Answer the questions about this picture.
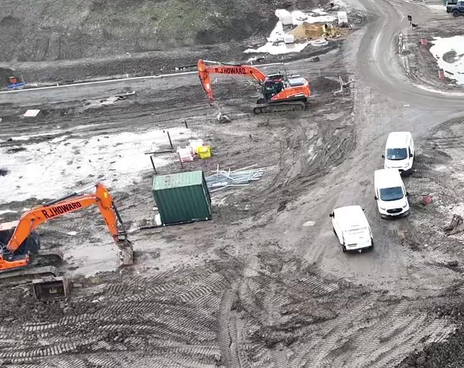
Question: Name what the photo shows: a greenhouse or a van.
van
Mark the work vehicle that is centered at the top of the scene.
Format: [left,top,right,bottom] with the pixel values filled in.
[194,55,317,118]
